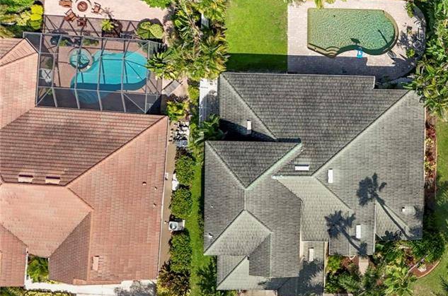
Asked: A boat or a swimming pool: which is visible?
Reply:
swimming pool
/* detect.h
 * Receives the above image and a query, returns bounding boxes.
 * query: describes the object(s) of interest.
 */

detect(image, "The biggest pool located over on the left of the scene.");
[69,46,152,105]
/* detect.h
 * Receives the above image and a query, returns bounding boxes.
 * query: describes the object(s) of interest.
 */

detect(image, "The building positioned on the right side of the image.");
[202,72,425,296]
